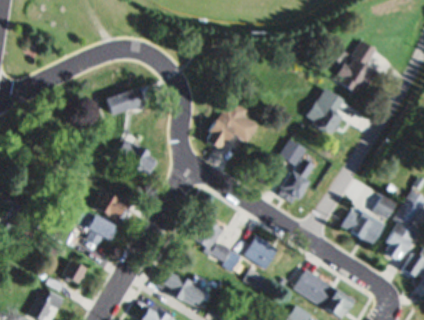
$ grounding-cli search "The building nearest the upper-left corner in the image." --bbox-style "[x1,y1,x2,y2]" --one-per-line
[106,89,143,116]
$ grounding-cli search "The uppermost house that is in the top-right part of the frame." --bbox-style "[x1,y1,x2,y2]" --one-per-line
[335,40,380,90]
